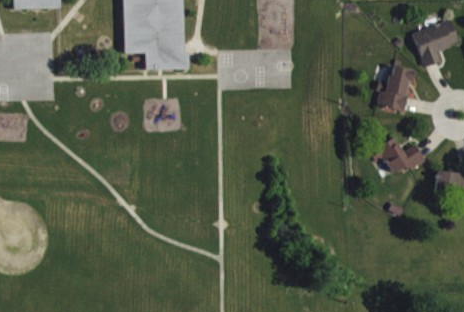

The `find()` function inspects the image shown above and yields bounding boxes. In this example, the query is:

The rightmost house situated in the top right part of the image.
[408,16,458,70]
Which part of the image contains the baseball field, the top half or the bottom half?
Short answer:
bottom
